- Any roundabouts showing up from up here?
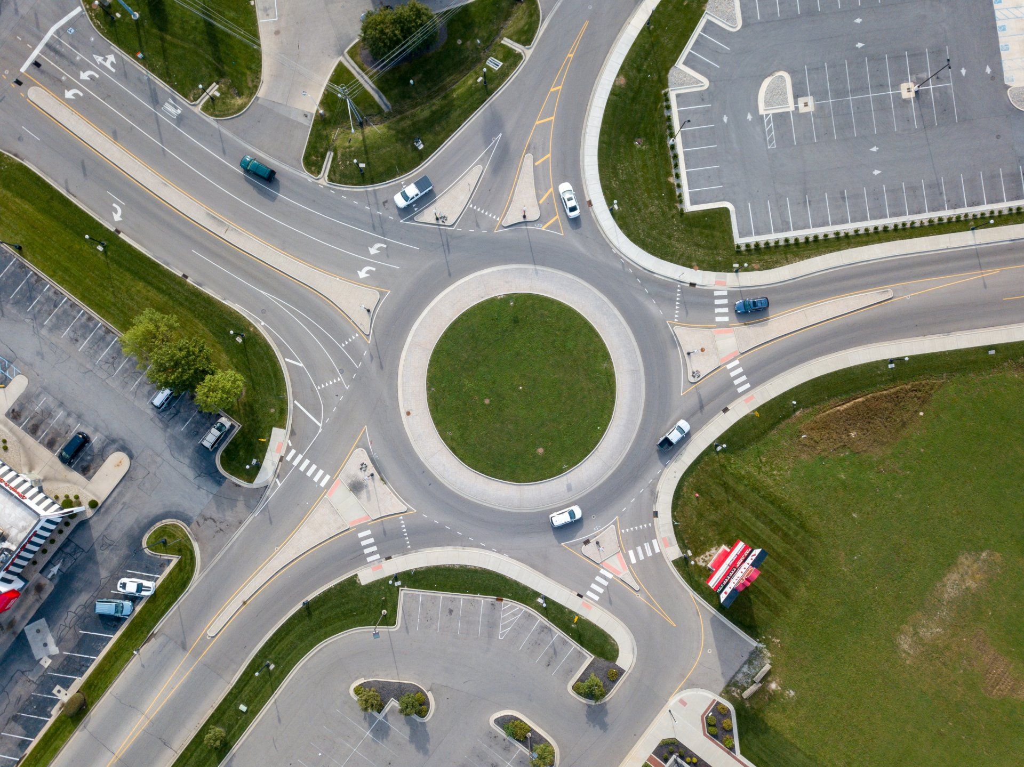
Yes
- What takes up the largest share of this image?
paved ground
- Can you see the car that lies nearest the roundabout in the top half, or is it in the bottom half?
bottom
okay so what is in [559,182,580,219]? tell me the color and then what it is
white car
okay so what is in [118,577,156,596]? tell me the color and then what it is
white car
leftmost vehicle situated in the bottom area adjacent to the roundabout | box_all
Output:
[548,505,582,528]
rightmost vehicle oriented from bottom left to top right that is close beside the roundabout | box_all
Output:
[653,418,691,455]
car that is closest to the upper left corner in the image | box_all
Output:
[241,157,278,183]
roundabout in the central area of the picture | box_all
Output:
[398,264,645,512]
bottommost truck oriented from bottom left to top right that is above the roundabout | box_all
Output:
[394,173,436,208]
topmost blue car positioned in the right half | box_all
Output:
[733,297,769,314]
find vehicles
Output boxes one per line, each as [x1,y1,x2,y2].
[394,173,436,208]
[241,157,278,183]
[201,417,232,451]
[96,599,134,617]
[148,382,175,410]
[653,418,691,455]
[118,577,156,596]
[733,297,769,314]
[548,505,582,528]
[559,182,580,219]
[60,431,92,465]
